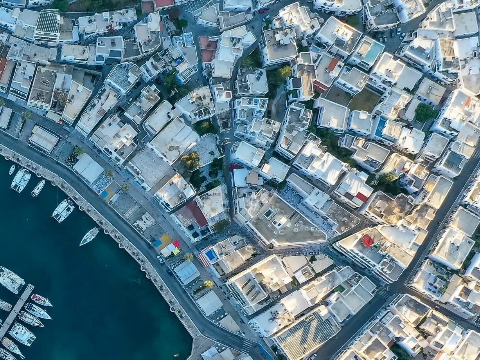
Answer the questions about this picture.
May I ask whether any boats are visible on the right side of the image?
No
